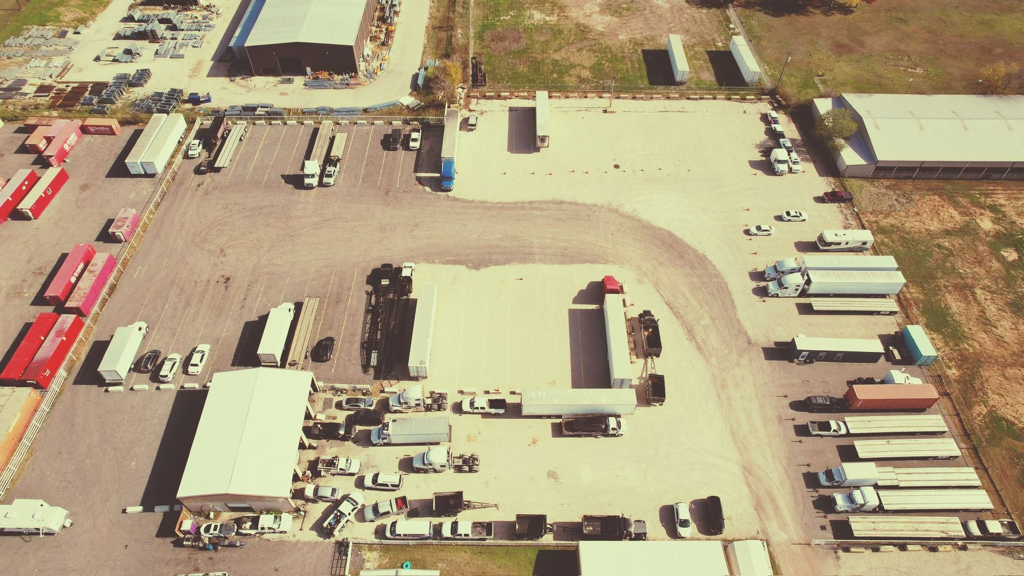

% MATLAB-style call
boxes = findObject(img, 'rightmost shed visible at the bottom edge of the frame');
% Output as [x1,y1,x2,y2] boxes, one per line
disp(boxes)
[727,541,775,576]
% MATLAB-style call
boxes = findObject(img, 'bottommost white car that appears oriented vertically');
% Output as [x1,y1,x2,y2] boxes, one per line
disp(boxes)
[673,502,692,538]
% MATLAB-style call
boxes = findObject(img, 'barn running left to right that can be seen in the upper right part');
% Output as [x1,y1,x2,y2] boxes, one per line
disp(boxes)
[840,94,1024,178]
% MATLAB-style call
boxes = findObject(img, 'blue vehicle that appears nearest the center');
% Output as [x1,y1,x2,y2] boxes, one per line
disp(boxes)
[440,159,457,192]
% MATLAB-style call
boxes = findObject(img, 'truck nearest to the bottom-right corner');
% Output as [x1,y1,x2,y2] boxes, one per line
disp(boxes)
[963,517,1024,539]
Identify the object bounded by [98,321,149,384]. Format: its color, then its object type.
white truck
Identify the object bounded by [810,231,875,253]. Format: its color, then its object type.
white camper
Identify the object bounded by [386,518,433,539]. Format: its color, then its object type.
white vehicle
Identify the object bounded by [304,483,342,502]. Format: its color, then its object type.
white car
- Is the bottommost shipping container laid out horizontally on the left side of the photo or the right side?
right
